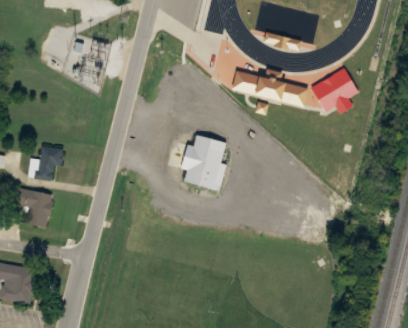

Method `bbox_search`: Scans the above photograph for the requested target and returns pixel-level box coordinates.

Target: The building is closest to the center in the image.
[182,136,228,192]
